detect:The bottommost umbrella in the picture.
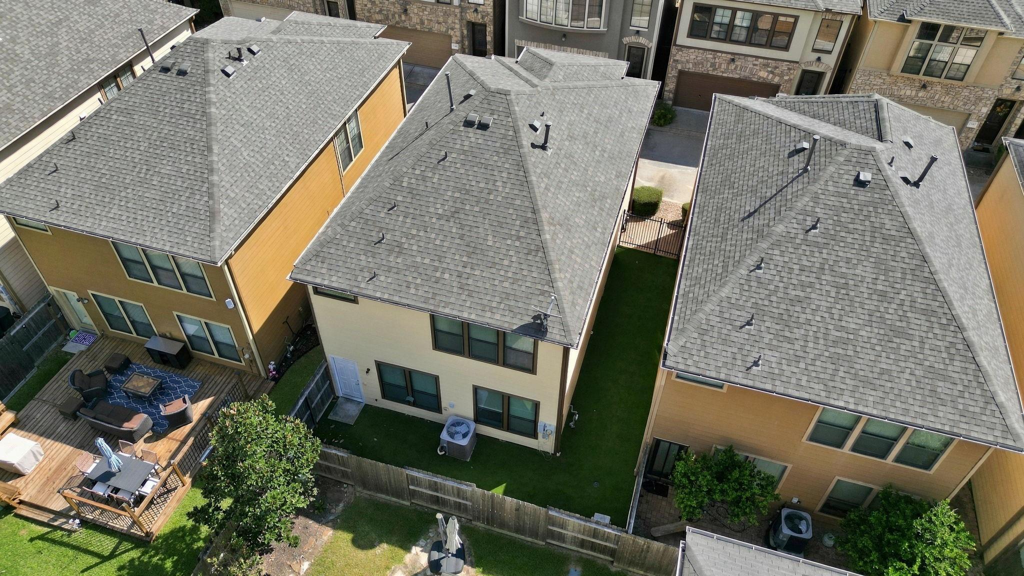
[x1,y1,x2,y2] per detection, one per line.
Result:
[422,515,466,576]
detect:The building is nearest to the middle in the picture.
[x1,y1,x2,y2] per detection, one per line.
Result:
[287,46,658,463]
